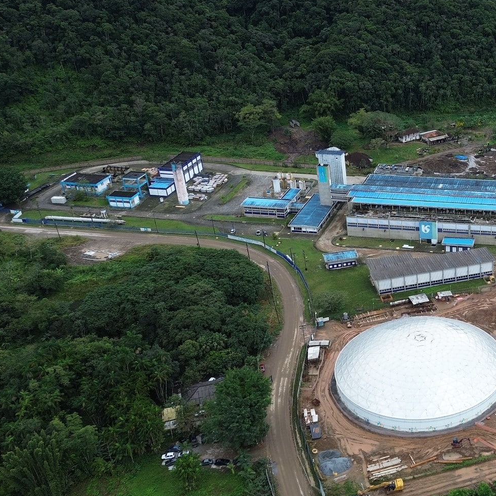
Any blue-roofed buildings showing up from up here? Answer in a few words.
Yes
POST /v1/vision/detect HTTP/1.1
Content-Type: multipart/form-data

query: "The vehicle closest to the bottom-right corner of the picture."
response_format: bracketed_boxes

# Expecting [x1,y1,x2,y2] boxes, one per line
[450,434,474,449]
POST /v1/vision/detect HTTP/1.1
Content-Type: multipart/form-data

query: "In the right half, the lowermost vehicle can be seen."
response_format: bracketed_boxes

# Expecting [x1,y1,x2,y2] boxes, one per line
[354,477,405,495]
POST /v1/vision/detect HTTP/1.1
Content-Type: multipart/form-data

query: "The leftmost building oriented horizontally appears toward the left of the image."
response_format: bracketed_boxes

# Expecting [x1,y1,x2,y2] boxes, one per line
[60,172,112,195]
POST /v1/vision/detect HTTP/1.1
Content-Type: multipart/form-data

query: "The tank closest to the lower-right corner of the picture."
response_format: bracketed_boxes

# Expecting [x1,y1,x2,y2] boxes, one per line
[334,314,496,430]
